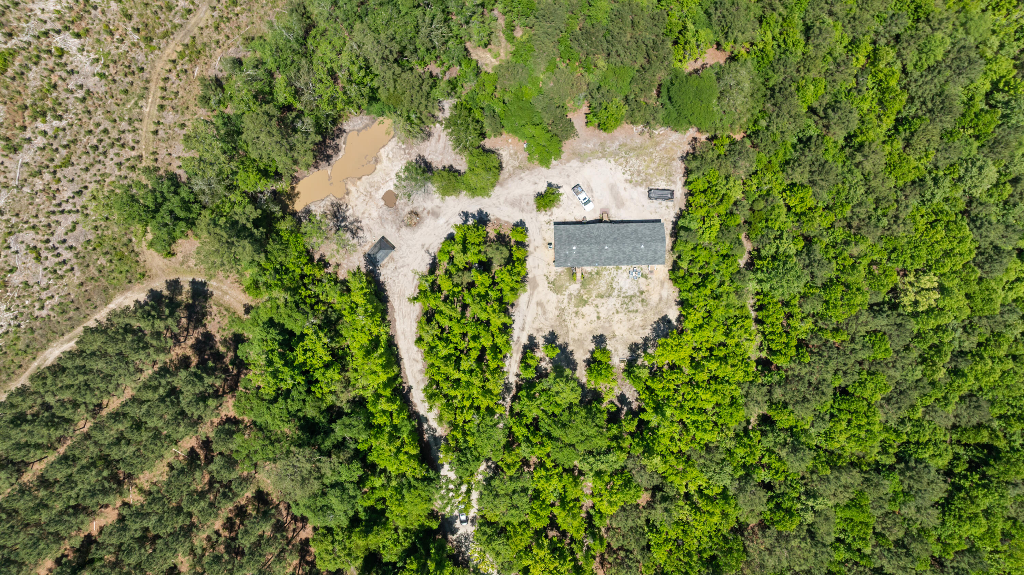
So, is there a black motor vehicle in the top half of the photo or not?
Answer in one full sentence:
No, I see no black motor vehicle in the top half of the photo.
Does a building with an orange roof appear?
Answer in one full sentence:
No, there appears to be no building with an orange roof in this shot.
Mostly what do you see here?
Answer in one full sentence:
Most of the picture is covered by trees.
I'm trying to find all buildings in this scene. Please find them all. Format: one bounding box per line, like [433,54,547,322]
[366,238,395,267]
[554,222,666,267]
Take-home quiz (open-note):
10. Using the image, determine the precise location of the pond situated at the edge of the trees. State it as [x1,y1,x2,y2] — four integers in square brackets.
[292,117,395,211]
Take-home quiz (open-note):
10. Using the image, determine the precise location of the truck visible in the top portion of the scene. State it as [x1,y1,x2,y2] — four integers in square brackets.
[570,182,595,213]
